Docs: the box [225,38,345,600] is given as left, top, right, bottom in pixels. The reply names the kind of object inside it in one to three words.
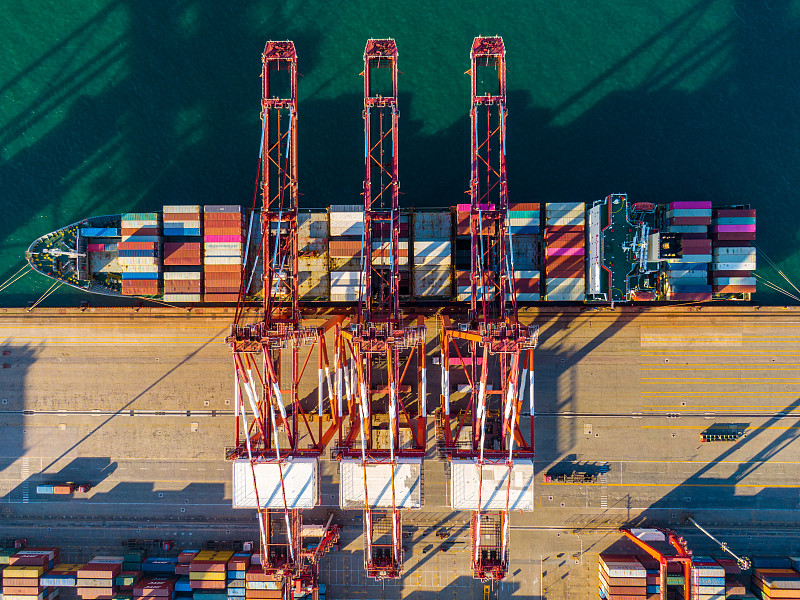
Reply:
container crane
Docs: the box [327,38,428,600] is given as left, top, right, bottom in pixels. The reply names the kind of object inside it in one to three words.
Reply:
container crane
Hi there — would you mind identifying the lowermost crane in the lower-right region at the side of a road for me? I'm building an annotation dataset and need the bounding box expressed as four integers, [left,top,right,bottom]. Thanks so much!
[609,527,704,600]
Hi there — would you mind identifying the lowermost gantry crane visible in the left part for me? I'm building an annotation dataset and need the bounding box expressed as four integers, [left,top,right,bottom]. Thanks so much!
[277,527,347,600]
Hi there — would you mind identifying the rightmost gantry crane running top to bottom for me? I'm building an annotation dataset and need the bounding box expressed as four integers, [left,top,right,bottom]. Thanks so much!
[427,38,537,600]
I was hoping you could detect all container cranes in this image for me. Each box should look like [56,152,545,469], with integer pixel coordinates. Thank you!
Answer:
[327,38,428,600]
[609,527,704,600]
[277,527,347,600]
[427,38,537,600]
[225,38,345,600]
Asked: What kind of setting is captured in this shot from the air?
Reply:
port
